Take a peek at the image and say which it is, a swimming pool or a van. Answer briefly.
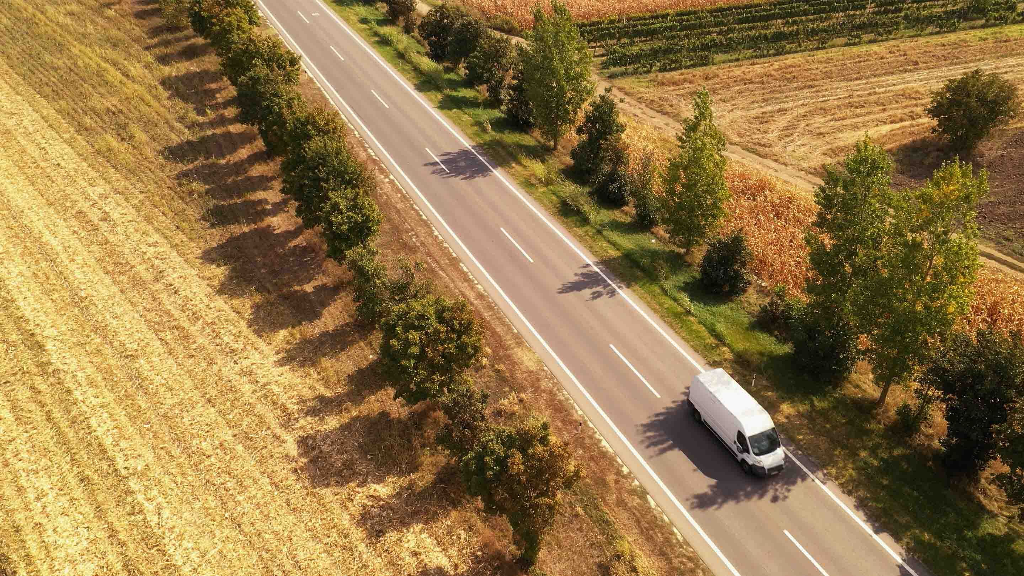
van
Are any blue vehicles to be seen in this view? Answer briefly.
No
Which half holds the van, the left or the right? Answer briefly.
right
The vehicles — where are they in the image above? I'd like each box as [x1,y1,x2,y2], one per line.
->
[685,362,792,480]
